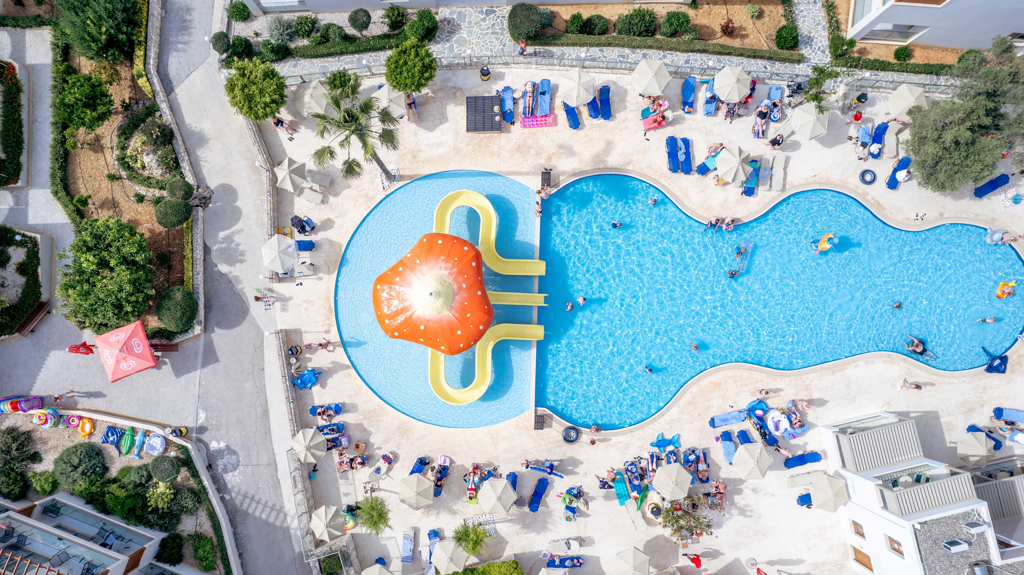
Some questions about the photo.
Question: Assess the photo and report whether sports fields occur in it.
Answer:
No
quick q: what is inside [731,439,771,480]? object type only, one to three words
umbrella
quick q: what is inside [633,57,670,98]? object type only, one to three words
umbrella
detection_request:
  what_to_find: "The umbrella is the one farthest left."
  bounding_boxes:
[65,338,100,356]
